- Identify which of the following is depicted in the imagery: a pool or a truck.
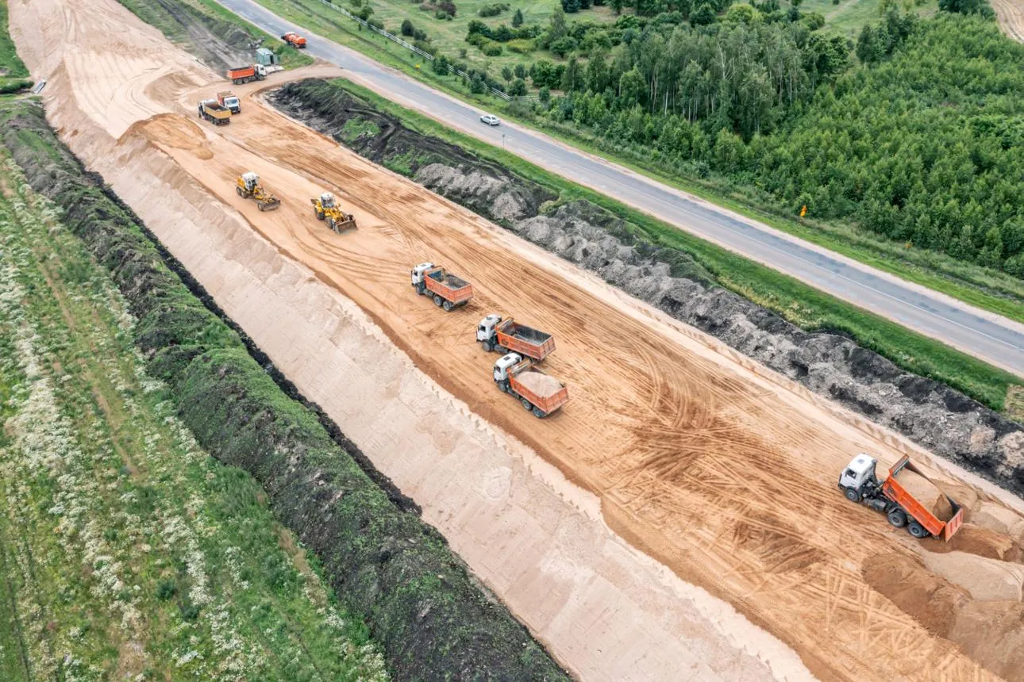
truck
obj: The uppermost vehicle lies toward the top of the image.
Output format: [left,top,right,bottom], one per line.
[285,28,307,46]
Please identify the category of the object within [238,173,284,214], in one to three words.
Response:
work vehicle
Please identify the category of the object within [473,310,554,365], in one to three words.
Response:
truck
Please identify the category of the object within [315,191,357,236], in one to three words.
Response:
work vehicle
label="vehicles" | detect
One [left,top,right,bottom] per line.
[480,113,501,125]
[473,310,554,365]
[226,61,266,83]
[407,257,473,310]
[837,446,976,544]
[238,173,284,214]
[217,94,241,119]
[489,346,573,417]
[285,28,307,46]
[192,96,227,122]
[315,191,357,236]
